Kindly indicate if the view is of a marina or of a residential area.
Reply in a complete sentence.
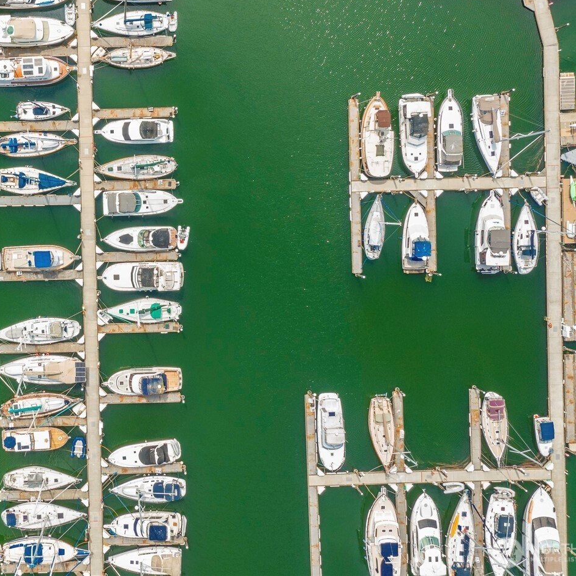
The picture captures a marina.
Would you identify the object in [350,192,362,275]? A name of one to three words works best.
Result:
pier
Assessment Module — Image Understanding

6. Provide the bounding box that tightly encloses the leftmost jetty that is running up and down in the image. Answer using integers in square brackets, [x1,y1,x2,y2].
[76,0,104,576]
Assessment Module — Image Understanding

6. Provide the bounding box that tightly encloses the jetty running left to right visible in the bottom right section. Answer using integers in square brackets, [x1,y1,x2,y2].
[308,469,551,487]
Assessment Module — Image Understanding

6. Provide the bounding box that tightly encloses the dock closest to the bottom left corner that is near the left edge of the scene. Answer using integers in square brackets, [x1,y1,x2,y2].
[1,561,90,574]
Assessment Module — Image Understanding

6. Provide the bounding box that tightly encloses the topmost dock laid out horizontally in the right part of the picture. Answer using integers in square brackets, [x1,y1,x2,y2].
[351,177,546,192]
